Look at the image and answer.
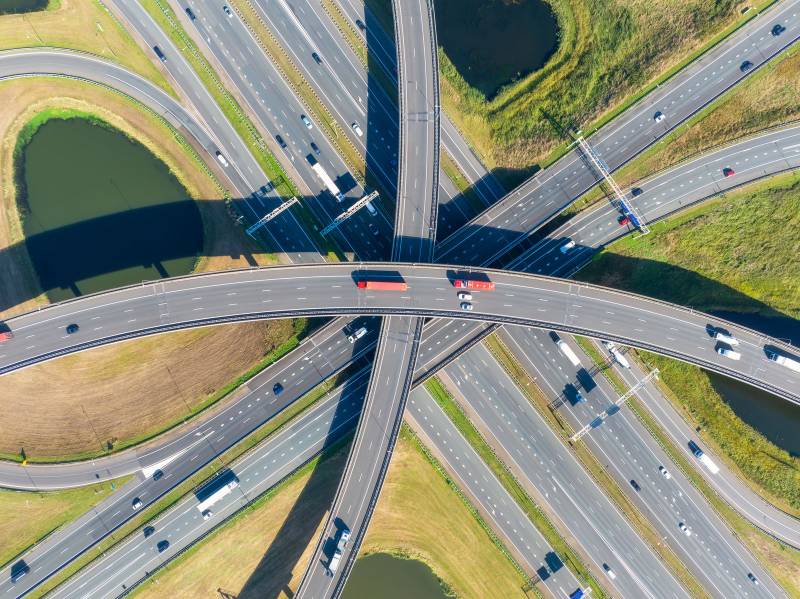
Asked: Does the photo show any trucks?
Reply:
Yes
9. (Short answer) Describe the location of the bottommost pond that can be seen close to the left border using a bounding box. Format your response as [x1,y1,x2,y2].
[20,116,205,304]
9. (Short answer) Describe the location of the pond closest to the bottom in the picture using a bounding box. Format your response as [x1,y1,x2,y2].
[341,553,452,599]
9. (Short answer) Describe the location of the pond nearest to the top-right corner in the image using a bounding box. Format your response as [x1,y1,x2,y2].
[433,0,559,100]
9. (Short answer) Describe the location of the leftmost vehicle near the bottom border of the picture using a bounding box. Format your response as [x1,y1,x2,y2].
[13,565,31,579]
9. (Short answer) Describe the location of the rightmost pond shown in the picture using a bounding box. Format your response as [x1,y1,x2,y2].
[686,304,800,458]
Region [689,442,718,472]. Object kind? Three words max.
truck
